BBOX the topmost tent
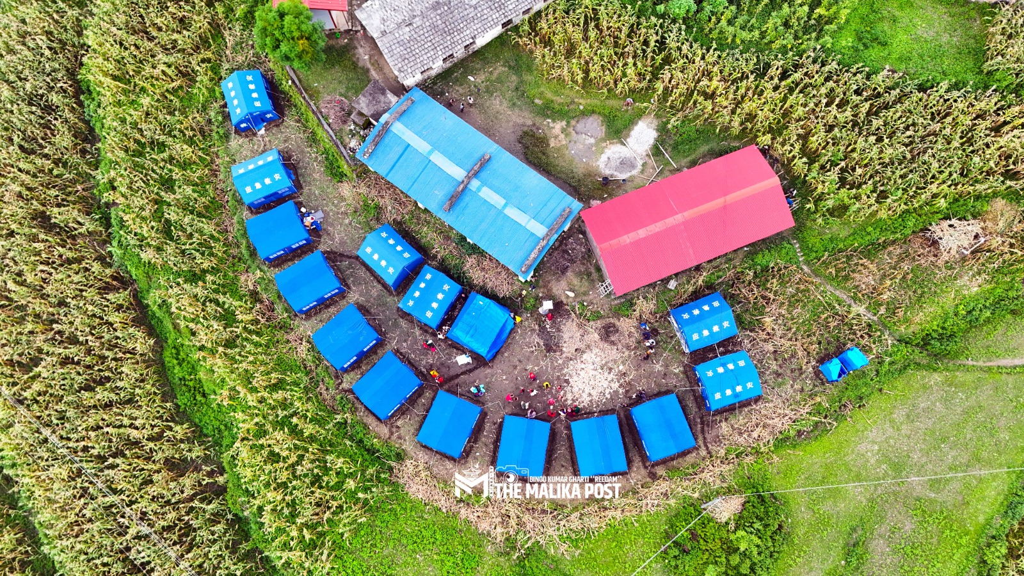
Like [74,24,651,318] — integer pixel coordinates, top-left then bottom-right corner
[221,70,289,145]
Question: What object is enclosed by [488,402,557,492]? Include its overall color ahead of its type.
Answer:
blue tent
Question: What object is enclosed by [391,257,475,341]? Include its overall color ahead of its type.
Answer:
blue tent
